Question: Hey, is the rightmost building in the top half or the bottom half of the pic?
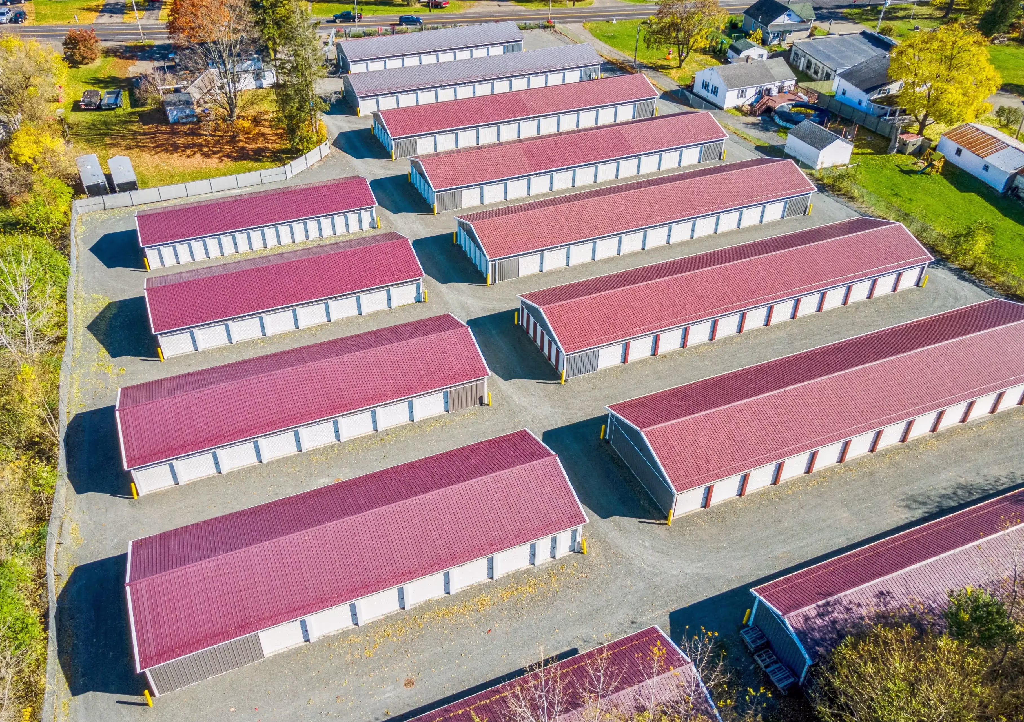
top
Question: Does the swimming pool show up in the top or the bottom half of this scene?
top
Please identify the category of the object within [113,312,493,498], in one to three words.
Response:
building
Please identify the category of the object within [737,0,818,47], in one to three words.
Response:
house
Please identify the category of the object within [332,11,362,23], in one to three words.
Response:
vehicle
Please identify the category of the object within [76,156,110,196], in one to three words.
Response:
trailer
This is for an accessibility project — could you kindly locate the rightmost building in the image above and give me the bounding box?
[934,119,1024,193]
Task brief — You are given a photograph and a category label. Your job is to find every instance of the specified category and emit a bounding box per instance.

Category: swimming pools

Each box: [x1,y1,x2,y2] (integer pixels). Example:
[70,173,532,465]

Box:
[773,107,830,130]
